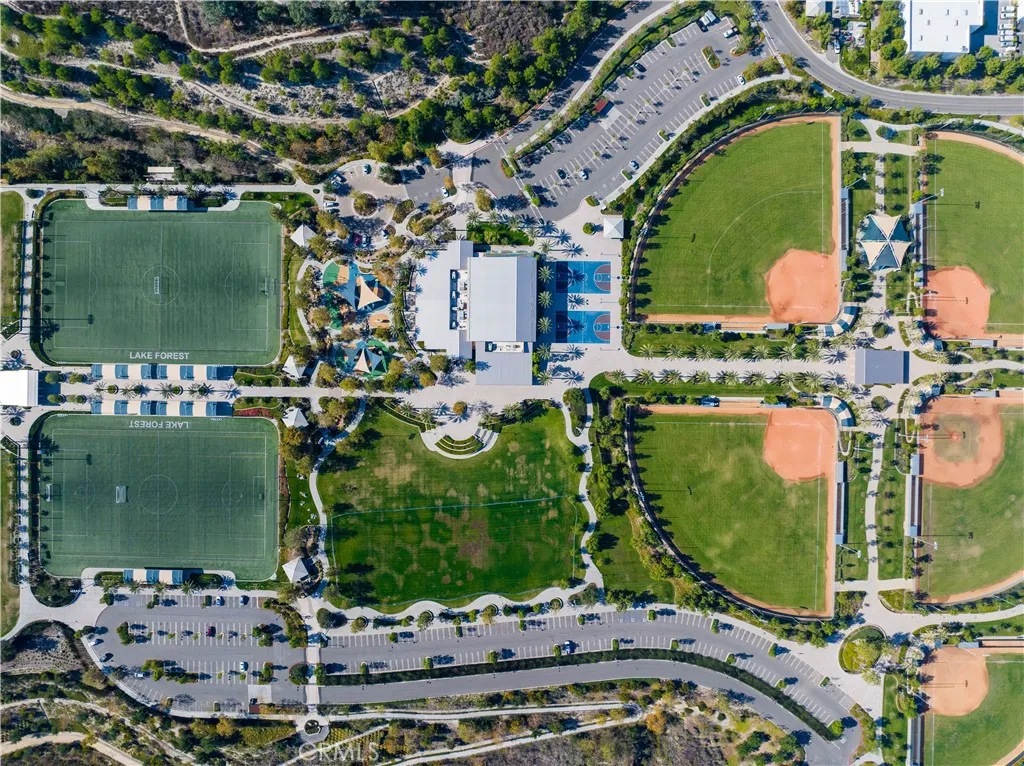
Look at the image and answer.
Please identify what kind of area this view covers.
sports ground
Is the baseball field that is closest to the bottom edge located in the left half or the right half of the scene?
right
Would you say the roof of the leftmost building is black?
No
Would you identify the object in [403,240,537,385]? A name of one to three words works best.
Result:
building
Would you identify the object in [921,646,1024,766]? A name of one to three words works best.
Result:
baseball field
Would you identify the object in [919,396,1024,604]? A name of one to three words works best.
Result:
baseball field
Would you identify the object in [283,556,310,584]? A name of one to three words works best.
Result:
tent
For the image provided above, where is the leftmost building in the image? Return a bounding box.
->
[0,370,42,407]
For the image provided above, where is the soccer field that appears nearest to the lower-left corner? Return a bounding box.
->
[39,415,280,581]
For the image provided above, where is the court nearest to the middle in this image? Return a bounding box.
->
[557,311,611,343]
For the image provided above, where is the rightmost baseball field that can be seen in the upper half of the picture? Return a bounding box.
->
[922,131,1024,346]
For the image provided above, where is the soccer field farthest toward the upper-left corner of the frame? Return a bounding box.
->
[41,199,283,365]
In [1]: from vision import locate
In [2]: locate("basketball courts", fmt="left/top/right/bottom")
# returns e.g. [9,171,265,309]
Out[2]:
[557,311,611,343]
[557,261,611,293]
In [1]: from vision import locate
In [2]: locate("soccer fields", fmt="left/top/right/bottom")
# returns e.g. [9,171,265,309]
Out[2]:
[39,415,280,581]
[41,199,283,365]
